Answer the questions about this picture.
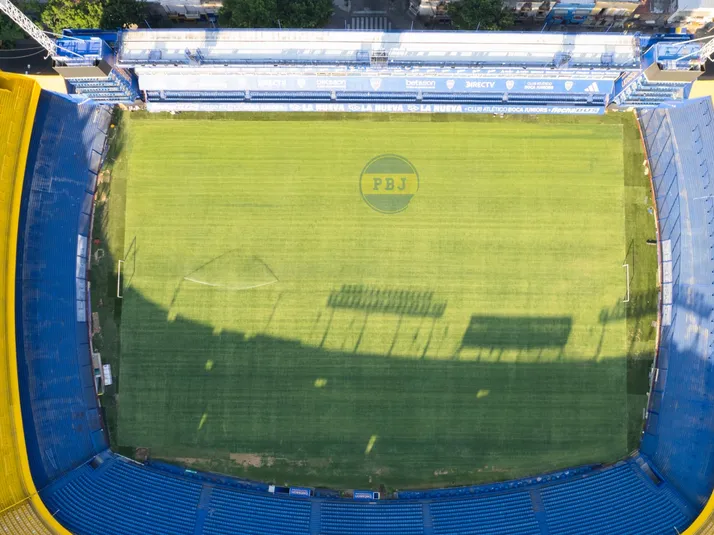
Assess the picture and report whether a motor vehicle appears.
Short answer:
No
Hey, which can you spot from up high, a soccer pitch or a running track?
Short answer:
soccer pitch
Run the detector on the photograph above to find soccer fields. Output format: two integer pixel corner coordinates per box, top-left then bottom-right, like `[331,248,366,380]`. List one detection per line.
[91,105,658,488]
